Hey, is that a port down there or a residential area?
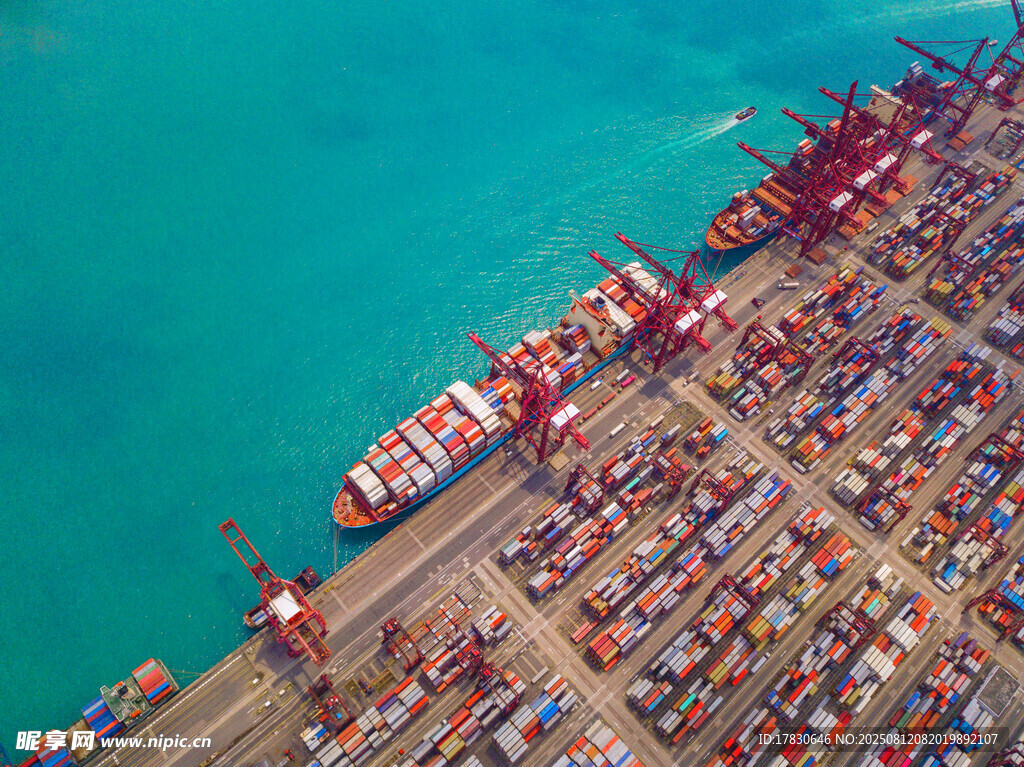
port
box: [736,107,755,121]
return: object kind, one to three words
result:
boat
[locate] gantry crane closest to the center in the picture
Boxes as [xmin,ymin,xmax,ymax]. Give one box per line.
[466,332,597,462]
